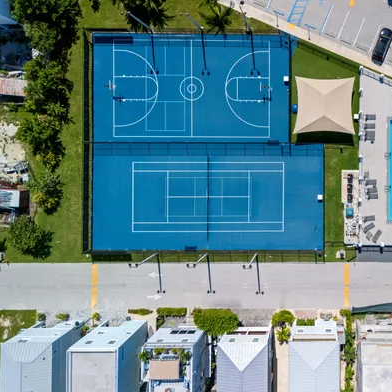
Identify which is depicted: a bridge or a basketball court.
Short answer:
basketball court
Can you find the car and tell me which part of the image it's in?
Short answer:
top right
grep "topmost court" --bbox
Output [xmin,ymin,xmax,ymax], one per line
[93,29,299,143]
